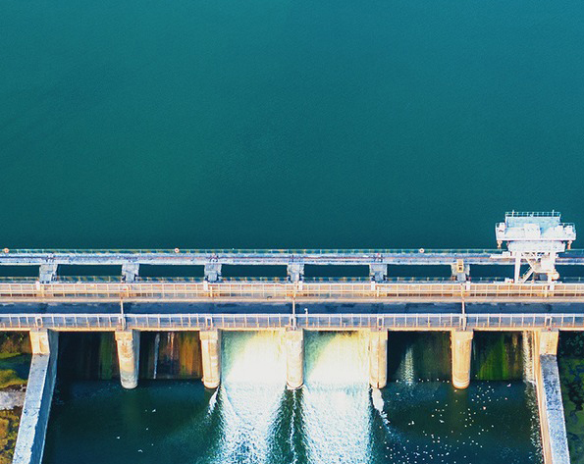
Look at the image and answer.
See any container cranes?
Yes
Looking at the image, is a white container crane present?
Yes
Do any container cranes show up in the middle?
No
